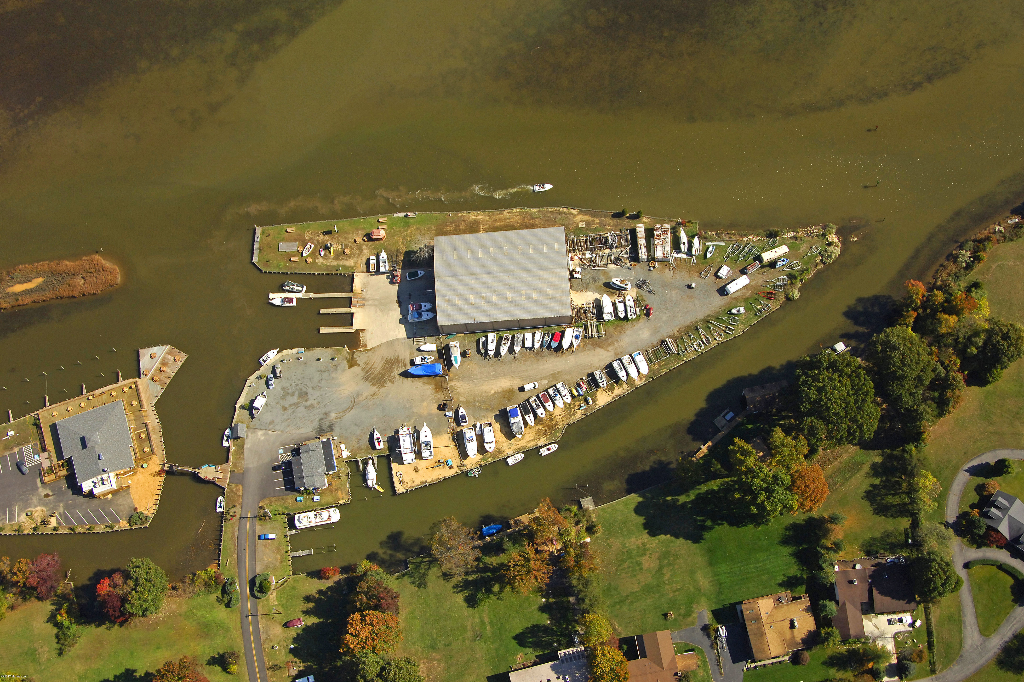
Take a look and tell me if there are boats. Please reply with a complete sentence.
Yes, there is a boat in the image.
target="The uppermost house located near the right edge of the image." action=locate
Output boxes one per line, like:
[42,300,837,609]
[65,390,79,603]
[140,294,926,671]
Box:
[981,491,1024,541]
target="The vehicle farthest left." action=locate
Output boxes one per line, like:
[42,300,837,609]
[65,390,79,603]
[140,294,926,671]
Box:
[17,460,30,476]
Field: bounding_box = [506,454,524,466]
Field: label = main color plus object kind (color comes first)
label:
white boat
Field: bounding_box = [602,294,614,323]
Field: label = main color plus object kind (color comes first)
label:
white boat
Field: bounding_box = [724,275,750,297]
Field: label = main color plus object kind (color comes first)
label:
white camper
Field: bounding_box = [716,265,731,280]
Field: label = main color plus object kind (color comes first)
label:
white vehicle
